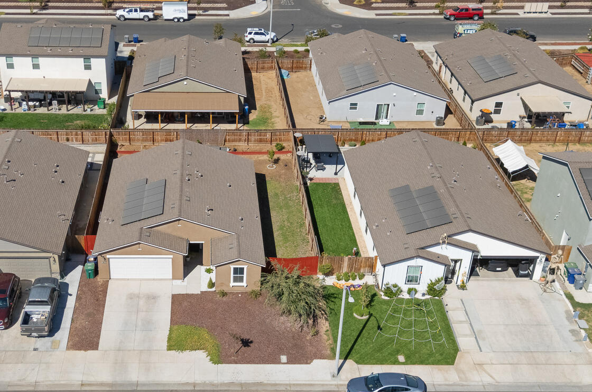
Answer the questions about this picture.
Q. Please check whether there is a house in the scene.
Yes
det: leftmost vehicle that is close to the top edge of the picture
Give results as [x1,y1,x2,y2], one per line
[115,5,158,22]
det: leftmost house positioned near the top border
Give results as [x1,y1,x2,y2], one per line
[0,12,116,107]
